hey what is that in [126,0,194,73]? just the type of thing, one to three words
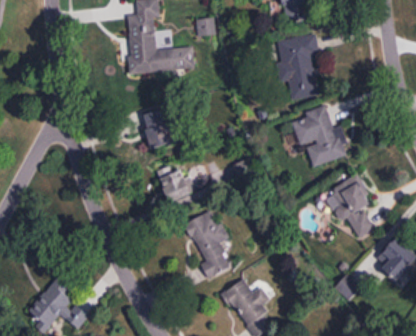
house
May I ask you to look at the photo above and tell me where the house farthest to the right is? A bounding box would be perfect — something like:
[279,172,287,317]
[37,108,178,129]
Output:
[377,238,416,283]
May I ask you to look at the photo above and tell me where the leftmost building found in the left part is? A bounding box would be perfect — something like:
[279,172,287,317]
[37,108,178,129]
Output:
[28,282,88,330]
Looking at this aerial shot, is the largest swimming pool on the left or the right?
right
